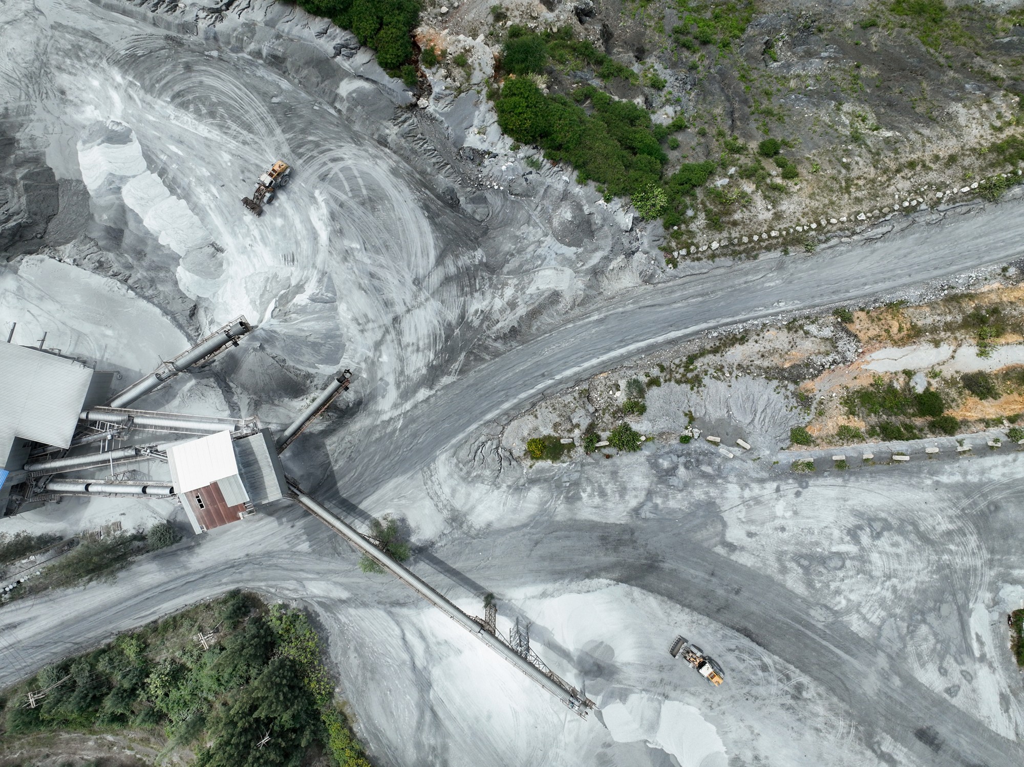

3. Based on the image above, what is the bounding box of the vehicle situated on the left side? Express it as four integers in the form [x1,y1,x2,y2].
[240,152,289,217]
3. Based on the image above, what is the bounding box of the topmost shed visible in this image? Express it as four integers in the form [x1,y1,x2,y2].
[0,323,134,470]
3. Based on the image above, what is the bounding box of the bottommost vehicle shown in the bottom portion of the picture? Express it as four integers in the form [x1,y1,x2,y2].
[666,632,727,691]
